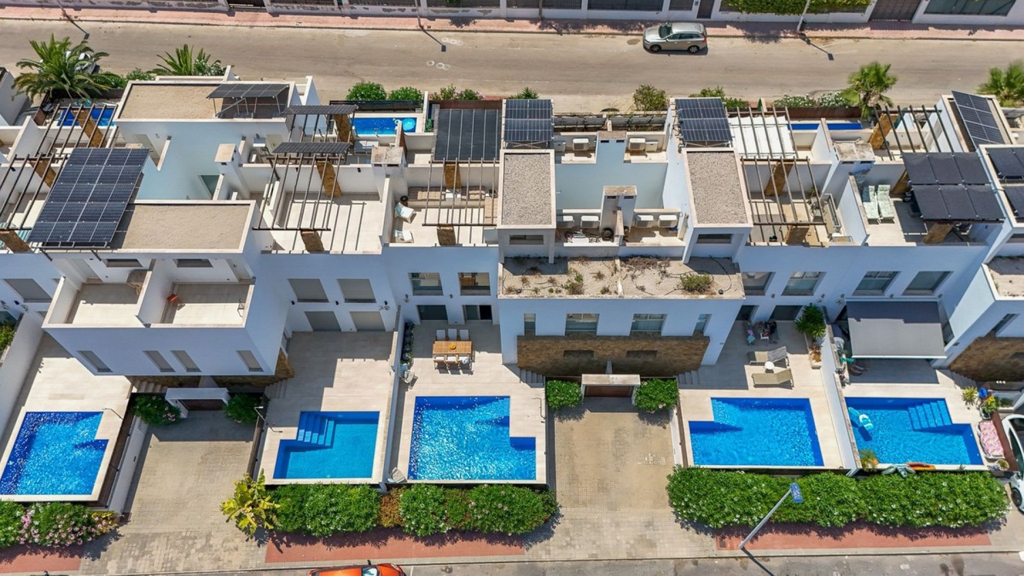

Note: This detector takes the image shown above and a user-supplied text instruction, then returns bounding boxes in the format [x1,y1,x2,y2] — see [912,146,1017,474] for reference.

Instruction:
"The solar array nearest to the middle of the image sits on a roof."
[501,97,554,149]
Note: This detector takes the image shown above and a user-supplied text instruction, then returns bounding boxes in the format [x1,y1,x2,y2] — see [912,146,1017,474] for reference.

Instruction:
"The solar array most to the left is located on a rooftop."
[27,155,150,249]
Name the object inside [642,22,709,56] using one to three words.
car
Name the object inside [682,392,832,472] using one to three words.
swimming pool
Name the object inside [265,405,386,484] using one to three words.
swimming pool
